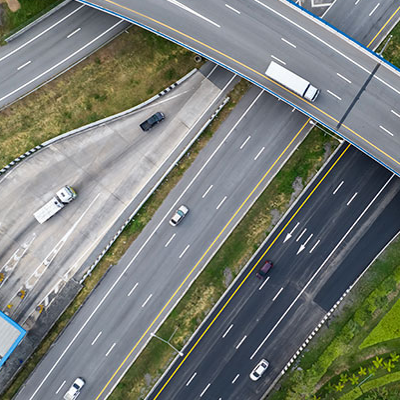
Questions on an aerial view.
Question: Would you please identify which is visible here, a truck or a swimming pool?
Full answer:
This aerial view contains a truck.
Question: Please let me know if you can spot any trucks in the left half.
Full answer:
Yes, there is a truck in the left half.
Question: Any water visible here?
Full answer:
No, the picture contains no water.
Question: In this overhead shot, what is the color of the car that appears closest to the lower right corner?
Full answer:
The color of the car that appears closest to the lower right corner is white.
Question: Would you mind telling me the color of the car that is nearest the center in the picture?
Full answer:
In this view, the car that is nearest the center is white.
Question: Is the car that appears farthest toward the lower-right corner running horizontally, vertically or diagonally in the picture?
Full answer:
In this picture, the car that appears farthest toward the lower-right corner is oriented diagonally.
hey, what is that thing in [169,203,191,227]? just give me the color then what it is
white car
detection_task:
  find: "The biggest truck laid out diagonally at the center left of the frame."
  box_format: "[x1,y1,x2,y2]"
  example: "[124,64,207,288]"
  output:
[34,188,80,223]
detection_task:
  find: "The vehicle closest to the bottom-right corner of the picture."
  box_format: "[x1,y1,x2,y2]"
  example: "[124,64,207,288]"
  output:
[250,356,271,380]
